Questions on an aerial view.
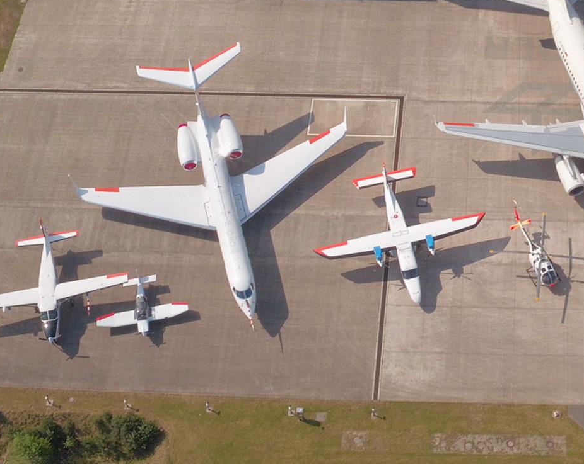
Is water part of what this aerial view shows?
No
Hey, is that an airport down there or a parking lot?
airport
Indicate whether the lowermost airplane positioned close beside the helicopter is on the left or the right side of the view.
right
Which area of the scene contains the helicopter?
right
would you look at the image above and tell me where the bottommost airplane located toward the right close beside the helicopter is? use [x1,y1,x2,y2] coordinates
[313,158,485,306]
